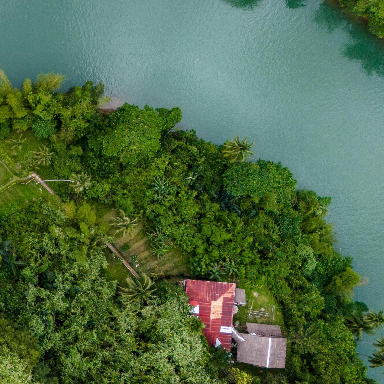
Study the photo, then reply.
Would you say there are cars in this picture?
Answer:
No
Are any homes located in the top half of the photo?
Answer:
No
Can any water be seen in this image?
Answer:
Yes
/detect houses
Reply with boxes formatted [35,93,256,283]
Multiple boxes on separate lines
[183,280,236,351]
[236,334,286,367]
